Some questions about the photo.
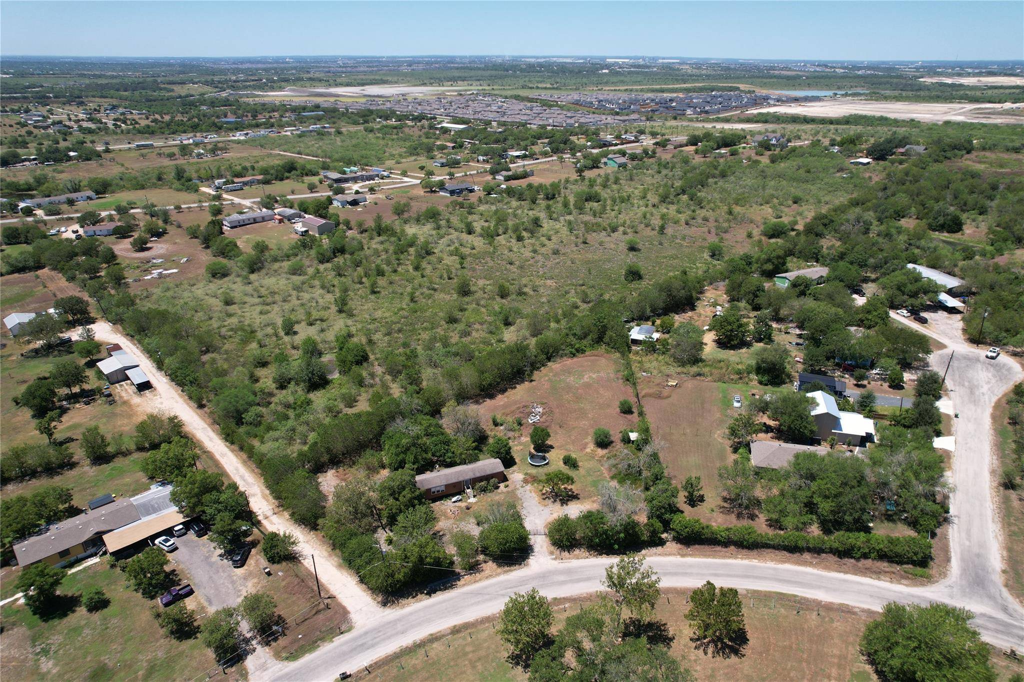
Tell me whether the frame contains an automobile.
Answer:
Yes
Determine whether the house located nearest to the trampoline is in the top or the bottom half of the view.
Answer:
bottom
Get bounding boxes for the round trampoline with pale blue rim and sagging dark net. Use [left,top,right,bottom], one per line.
[528,451,549,468]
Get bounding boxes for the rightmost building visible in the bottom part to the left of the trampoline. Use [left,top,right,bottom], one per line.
[414,459,504,501]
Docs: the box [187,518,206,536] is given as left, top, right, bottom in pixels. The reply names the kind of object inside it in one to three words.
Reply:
car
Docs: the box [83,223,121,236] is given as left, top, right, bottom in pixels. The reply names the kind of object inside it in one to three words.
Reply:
house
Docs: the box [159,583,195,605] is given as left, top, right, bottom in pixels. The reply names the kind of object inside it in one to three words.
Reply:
truck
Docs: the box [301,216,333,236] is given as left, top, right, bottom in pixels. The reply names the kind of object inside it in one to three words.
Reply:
barn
